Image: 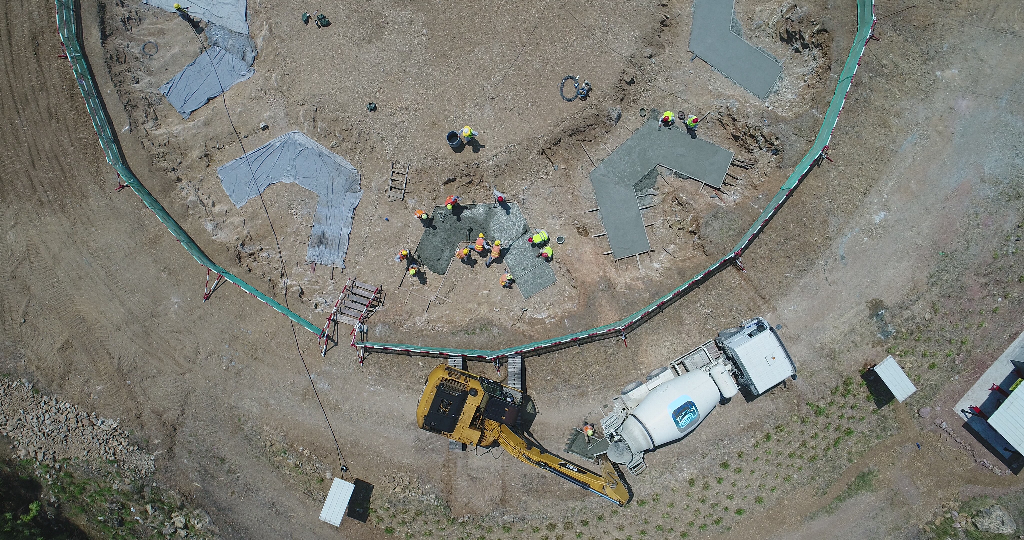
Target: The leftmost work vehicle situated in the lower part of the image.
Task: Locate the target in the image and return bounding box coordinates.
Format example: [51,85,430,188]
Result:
[413,352,634,513]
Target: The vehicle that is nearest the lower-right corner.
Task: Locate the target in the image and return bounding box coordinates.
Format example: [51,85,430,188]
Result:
[585,313,807,477]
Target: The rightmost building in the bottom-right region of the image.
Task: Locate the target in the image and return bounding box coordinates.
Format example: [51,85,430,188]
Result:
[950,331,1024,476]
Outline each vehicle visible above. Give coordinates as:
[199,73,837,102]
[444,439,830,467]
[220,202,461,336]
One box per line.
[585,313,807,477]
[413,352,634,513]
